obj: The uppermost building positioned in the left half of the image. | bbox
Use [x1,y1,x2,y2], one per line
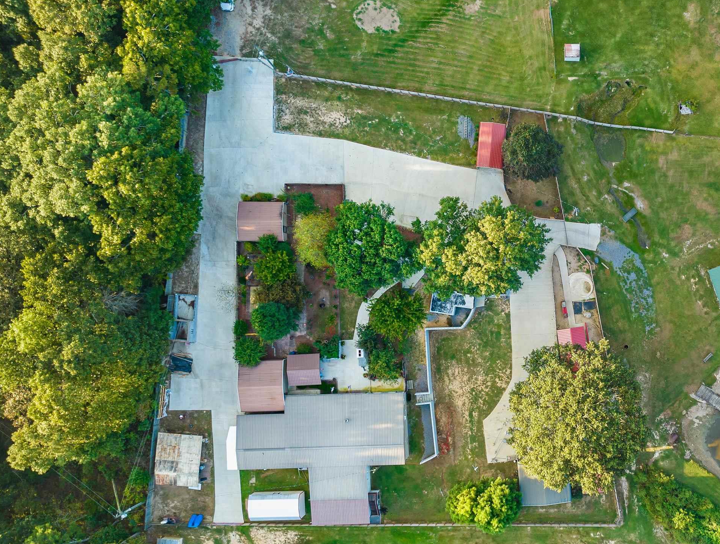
[236,201,288,241]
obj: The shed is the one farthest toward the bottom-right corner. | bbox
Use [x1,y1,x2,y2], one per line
[517,460,571,507]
